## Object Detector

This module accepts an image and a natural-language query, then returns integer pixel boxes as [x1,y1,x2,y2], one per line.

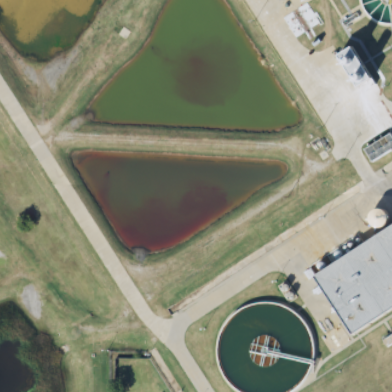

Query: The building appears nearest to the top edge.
[284,4,324,40]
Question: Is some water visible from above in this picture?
Yes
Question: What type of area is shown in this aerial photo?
industrial area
